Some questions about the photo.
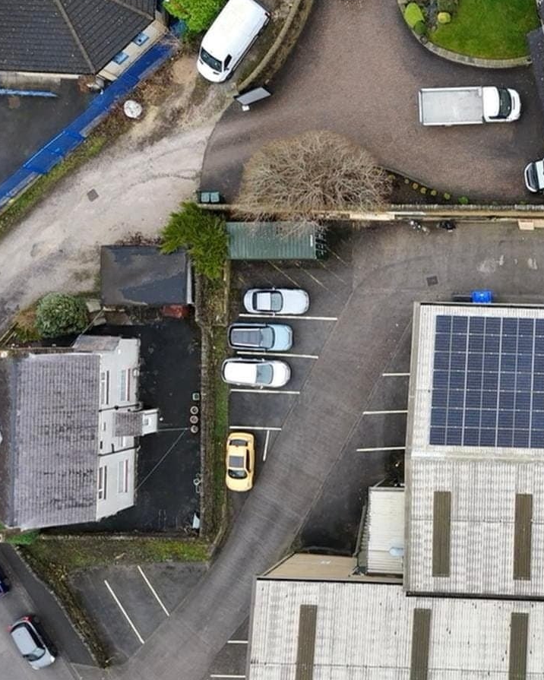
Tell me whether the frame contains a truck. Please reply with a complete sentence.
Yes, a truck appears in the view.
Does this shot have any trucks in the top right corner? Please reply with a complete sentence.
Yes, looking in the top right corner, one can make out a truck.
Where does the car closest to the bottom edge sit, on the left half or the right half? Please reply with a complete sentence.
The car closest to the bottom edge is on the left side of the image.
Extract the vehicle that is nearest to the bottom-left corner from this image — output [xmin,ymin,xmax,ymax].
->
[6,611,59,671]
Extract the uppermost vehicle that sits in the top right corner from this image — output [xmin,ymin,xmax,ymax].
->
[418,85,519,127]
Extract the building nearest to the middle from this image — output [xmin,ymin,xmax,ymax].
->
[101,244,209,307]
